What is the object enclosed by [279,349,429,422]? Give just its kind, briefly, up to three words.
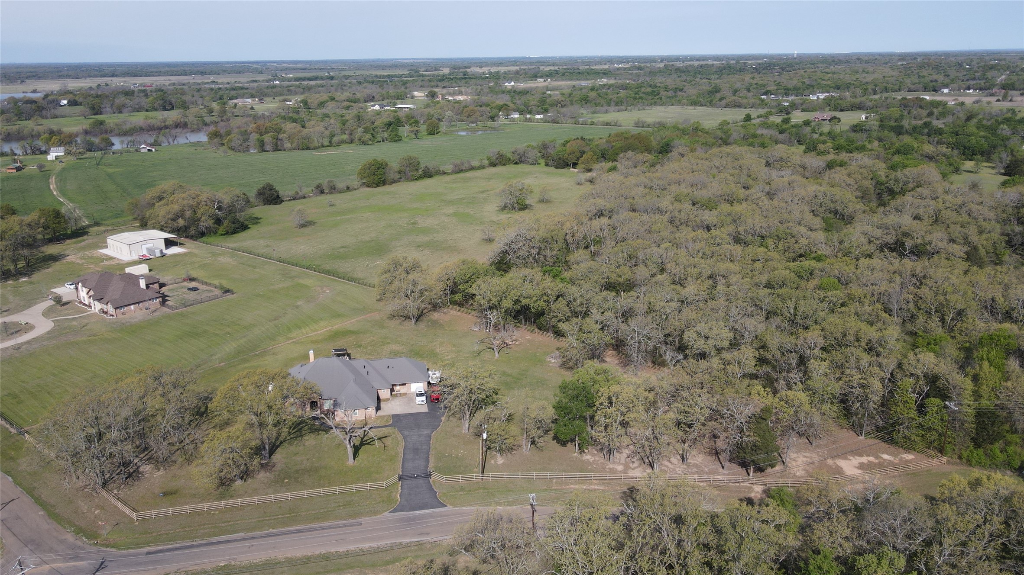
house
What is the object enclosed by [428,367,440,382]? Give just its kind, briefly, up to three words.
boat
